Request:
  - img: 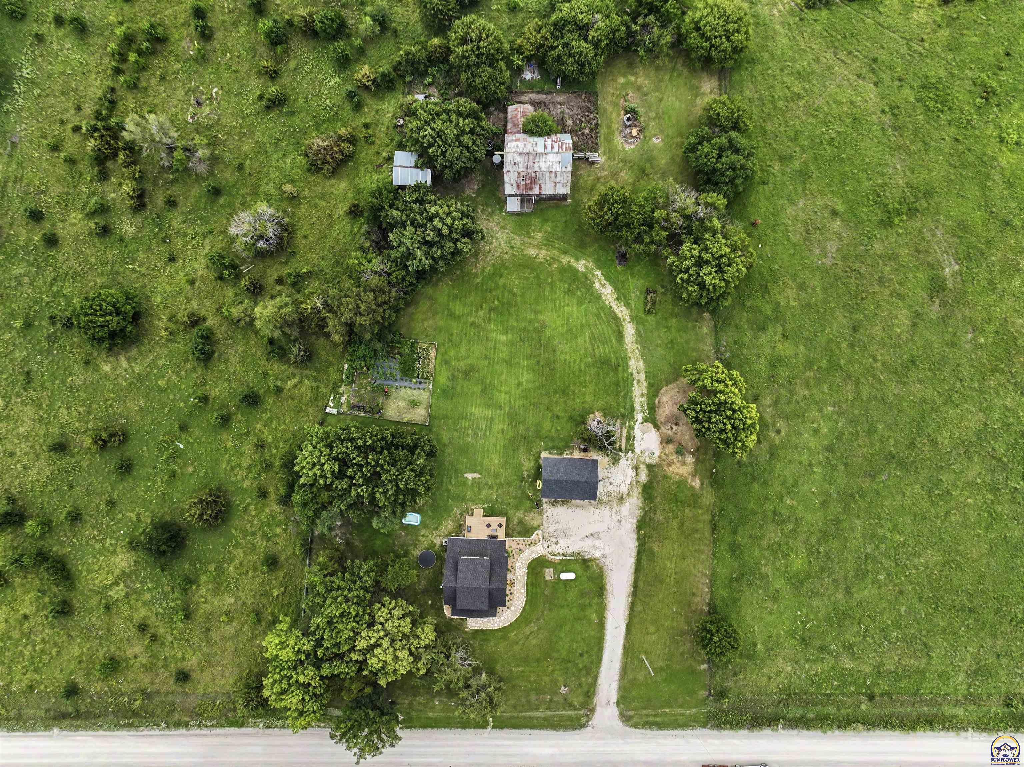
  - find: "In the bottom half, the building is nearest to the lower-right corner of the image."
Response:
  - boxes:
[541,457,599,501]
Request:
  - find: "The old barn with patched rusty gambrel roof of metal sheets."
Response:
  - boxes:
[495,134,573,199]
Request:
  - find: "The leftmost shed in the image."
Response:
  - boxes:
[389,151,431,186]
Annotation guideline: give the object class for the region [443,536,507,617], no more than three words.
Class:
house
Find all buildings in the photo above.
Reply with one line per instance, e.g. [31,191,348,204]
[541,457,599,501]
[495,134,573,199]
[389,151,431,186]
[443,536,507,617]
